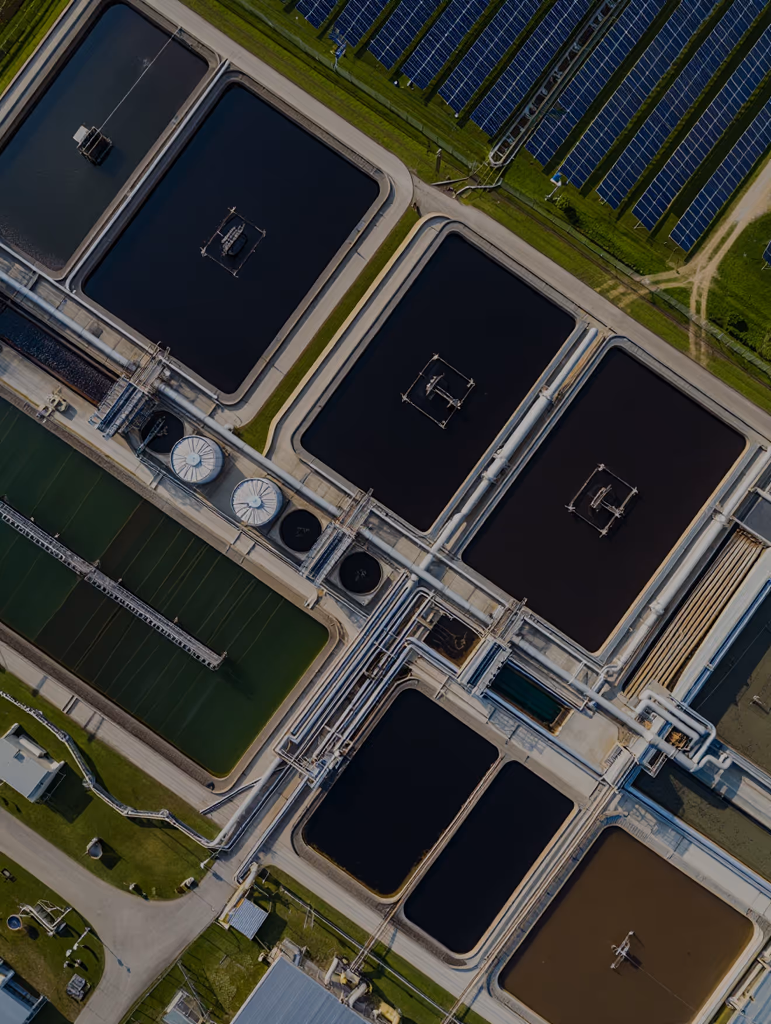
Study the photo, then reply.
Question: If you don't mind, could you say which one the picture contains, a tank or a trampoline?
tank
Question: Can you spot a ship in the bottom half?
No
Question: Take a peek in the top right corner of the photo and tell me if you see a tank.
No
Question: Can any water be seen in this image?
Yes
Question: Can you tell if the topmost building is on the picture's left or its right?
right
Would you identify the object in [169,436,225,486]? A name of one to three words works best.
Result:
storage tank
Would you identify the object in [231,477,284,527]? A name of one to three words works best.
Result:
storage tank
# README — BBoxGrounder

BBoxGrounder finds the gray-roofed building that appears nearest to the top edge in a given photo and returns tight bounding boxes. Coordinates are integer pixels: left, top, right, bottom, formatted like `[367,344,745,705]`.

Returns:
[740,496,771,541]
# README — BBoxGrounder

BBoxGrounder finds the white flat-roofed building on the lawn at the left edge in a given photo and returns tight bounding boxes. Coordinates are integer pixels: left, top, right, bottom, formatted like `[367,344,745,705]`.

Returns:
[0,717,76,802]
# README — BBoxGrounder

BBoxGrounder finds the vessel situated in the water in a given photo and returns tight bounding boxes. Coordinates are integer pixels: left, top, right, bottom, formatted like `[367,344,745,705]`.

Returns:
[71,120,112,162]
